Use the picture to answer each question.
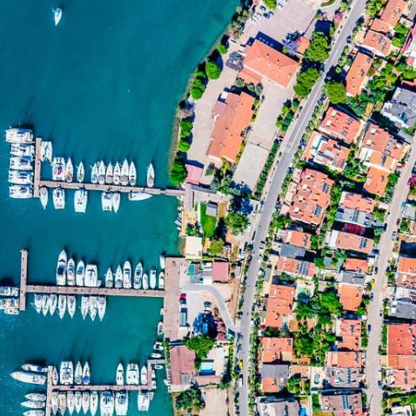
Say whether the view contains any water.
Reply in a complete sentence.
Yes, there's water in this view.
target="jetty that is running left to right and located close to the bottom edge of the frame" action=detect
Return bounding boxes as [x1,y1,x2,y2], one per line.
[46,359,168,416]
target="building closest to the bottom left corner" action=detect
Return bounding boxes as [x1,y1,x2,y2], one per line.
[170,346,223,385]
